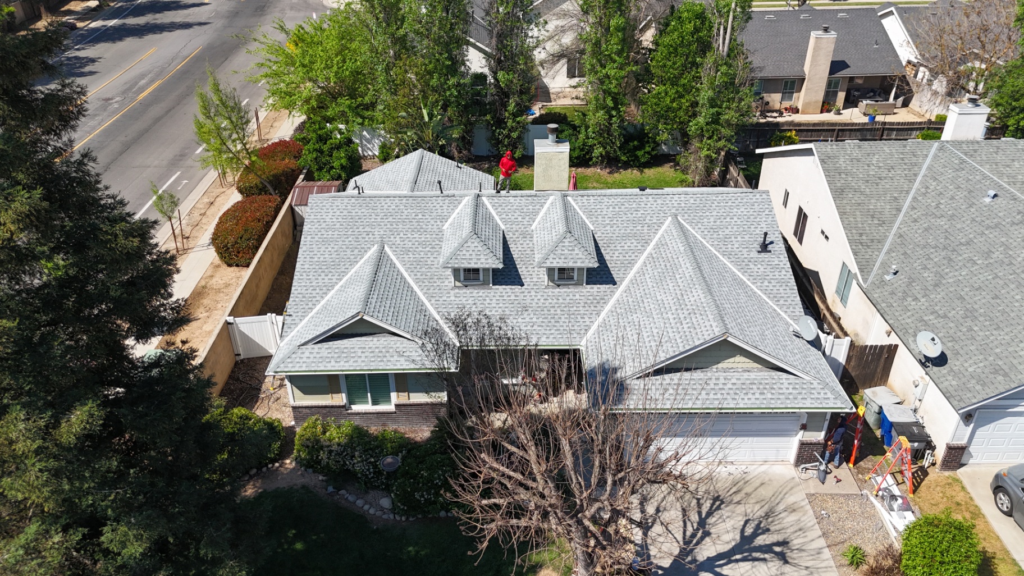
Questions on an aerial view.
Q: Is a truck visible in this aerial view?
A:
No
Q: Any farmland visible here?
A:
No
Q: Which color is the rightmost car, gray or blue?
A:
gray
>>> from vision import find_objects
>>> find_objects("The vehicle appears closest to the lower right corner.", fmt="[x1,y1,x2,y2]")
[992,473,1024,537]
